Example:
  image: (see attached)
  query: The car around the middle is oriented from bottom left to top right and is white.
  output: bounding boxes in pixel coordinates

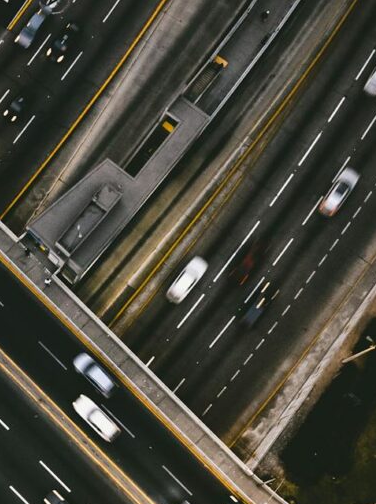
[167,257,206,302]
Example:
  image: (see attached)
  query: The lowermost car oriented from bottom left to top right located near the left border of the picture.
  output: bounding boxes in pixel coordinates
[0,82,36,128]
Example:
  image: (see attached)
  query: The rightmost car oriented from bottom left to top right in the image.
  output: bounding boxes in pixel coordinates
[317,167,359,214]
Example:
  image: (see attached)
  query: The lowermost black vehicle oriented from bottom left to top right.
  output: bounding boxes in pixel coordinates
[236,279,277,326]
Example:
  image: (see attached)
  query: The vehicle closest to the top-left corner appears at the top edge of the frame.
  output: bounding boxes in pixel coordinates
[13,5,52,51]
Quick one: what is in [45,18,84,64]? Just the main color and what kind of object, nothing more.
black car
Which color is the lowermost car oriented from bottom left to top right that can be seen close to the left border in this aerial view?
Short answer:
black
